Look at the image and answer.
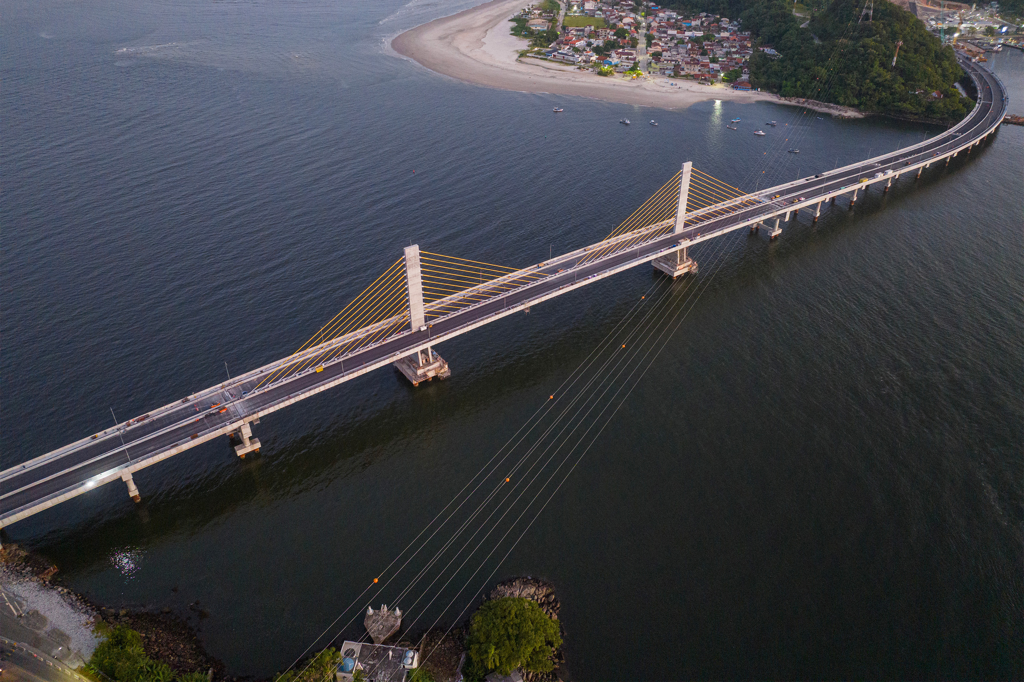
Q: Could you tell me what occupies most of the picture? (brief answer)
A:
water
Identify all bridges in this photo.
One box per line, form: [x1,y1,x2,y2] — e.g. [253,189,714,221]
[0,66,1008,552]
